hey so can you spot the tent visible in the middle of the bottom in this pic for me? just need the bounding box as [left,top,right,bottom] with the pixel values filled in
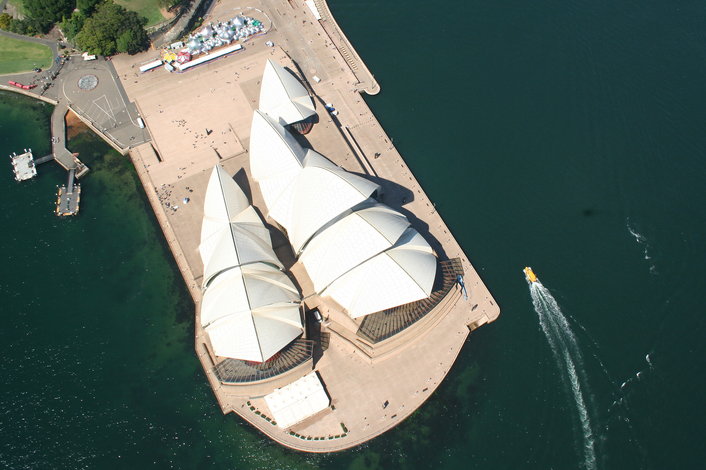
[265,371,336,435]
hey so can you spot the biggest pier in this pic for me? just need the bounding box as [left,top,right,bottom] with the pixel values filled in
[52,103,79,169]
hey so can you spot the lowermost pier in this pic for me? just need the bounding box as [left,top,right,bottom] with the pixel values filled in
[53,183,81,215]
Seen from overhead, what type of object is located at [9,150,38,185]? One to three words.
pier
